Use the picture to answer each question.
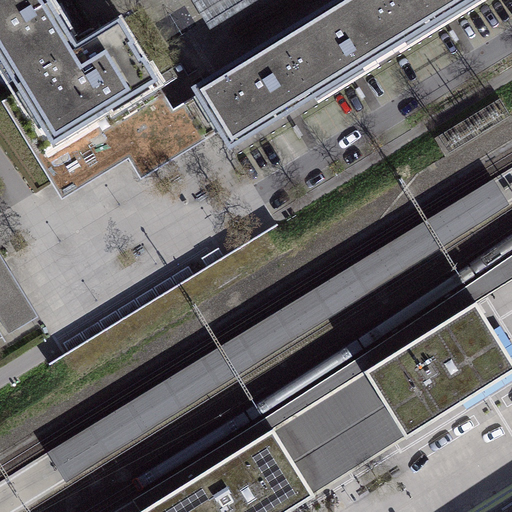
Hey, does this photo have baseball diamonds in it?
No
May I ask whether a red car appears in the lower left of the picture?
No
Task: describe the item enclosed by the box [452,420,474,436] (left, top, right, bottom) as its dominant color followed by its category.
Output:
white car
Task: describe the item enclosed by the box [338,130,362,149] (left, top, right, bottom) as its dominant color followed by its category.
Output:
white car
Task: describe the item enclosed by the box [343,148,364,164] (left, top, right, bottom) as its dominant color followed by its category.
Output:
black car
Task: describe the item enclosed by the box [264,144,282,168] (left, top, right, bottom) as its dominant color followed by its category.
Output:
black car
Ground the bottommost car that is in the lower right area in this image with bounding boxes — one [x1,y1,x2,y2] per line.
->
[408,455,430,472]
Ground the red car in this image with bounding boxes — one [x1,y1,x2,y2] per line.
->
[336,94,352,116]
